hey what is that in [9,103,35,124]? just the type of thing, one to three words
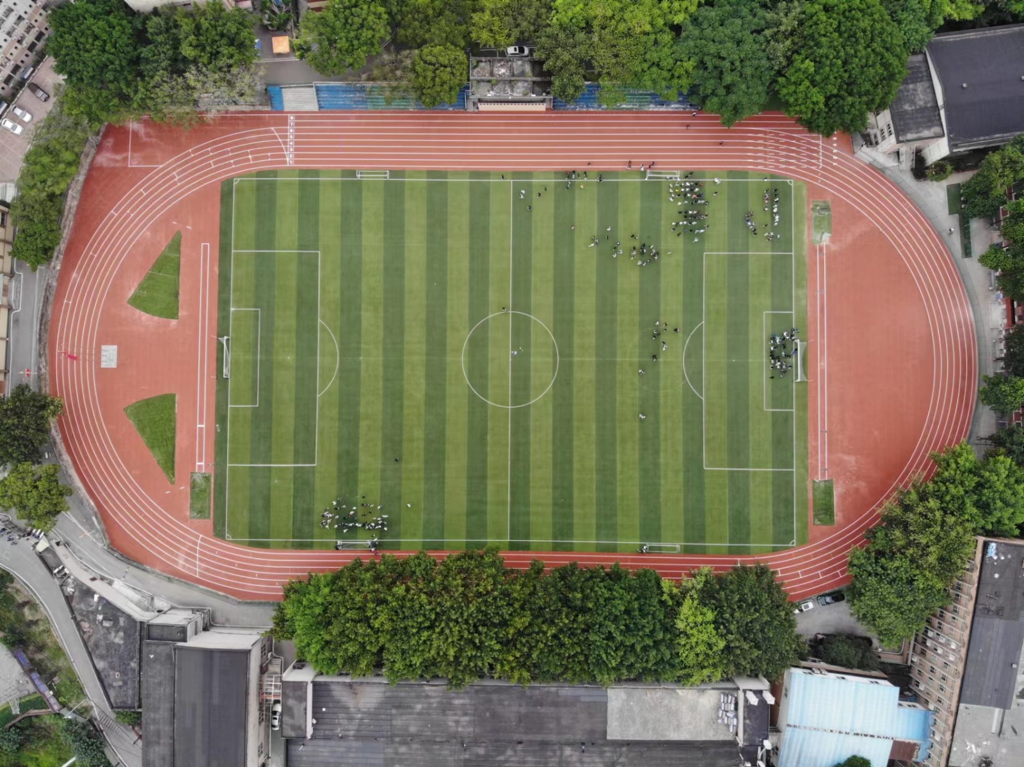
car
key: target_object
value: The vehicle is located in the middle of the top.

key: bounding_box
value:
[506,45,530,57]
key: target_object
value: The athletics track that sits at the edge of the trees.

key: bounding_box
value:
[51,110,977,602]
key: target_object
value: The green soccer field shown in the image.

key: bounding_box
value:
[213,170,805,555]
